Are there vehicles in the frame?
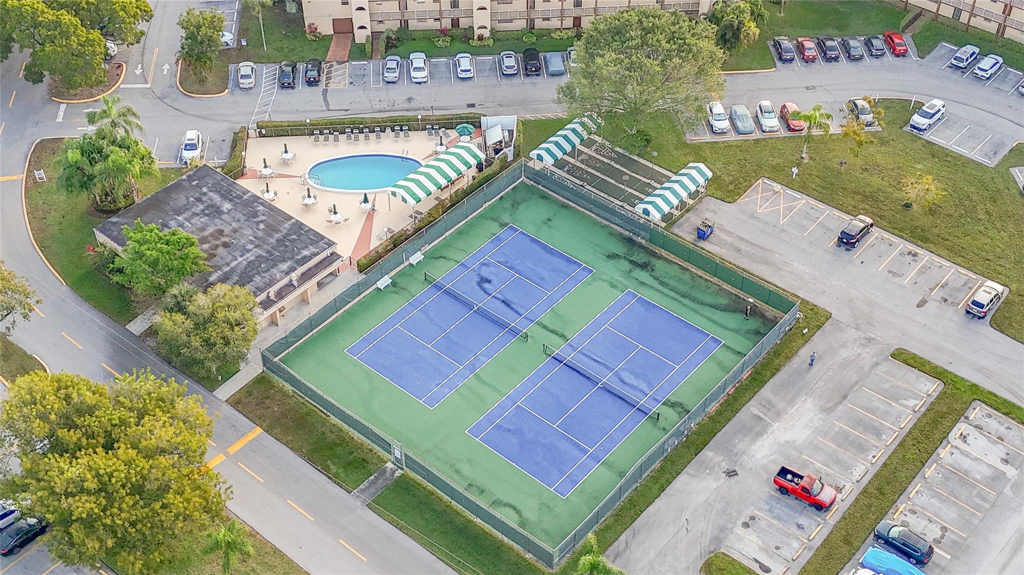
Yes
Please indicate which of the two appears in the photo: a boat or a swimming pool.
swimming pool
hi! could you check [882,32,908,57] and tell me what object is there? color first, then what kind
red car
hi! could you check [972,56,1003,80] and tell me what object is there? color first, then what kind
white car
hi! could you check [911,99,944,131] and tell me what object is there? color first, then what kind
white car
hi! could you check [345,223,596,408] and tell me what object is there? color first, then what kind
blue tennis court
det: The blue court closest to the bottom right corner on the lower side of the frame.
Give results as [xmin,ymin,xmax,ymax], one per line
[466,288,723,498]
